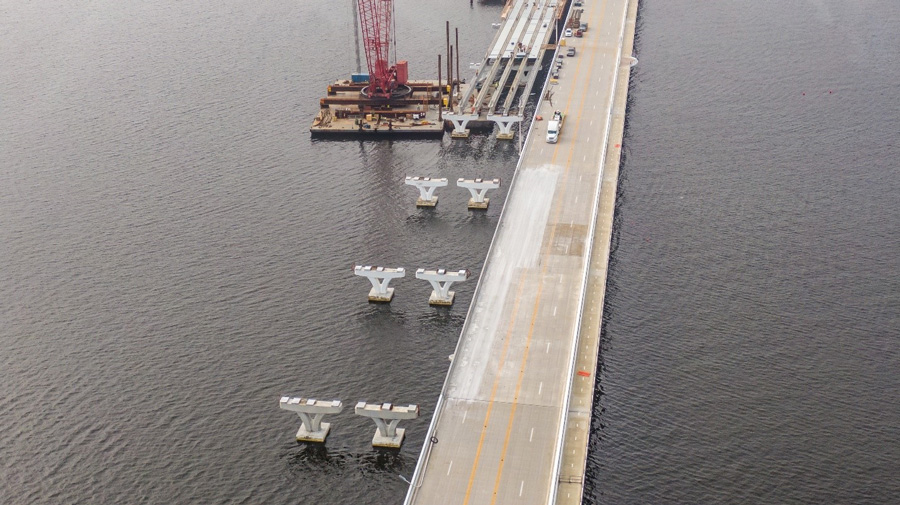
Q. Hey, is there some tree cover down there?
No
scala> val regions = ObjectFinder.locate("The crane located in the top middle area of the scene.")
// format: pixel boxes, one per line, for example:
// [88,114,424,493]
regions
[357,0,414,112]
